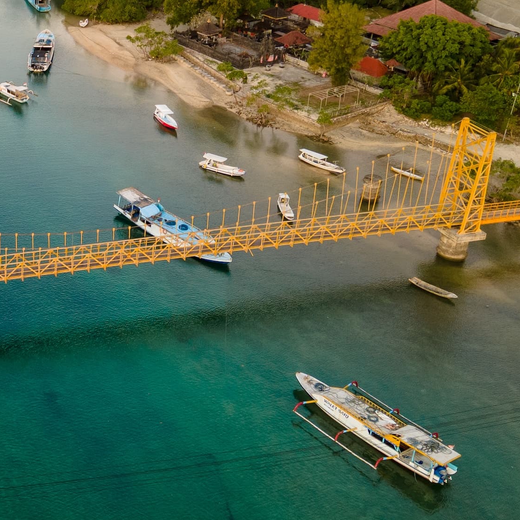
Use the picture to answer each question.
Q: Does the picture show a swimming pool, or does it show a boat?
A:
boat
